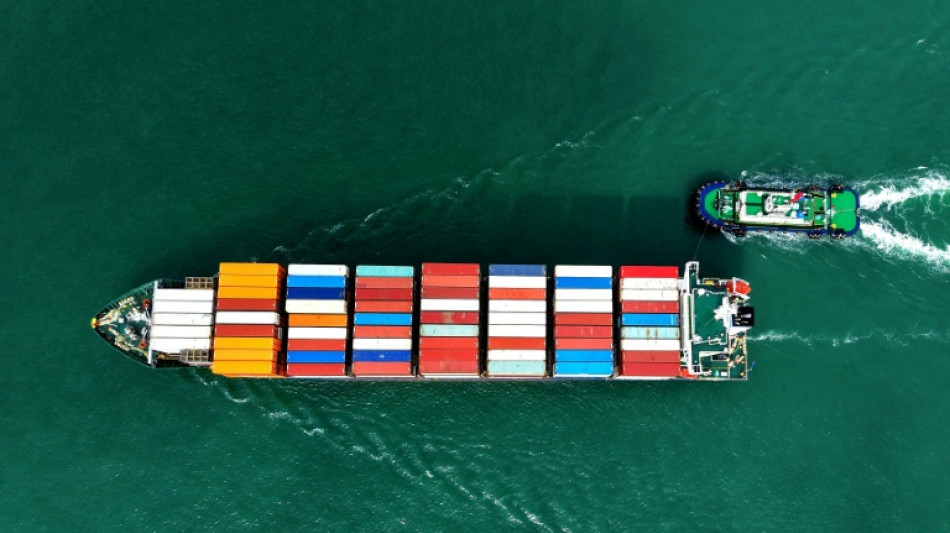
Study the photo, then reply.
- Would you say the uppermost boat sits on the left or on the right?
right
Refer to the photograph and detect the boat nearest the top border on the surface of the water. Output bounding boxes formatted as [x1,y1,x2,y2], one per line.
[688,179,860,240]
